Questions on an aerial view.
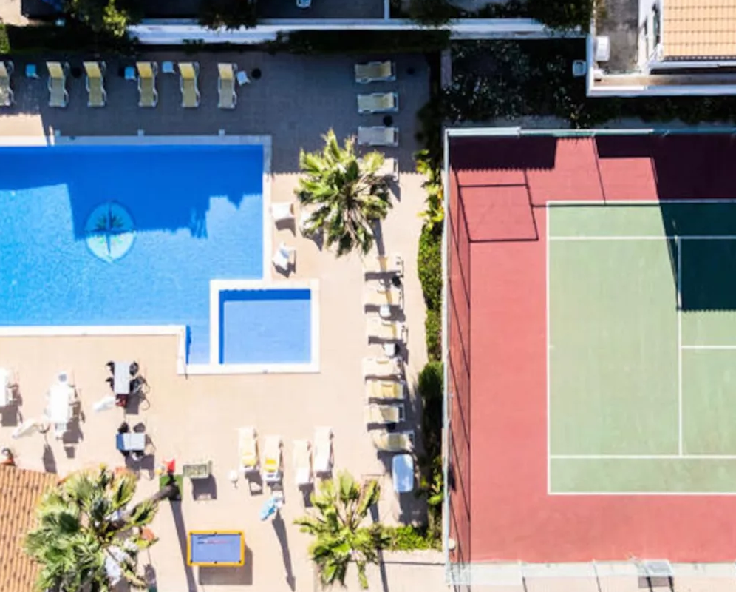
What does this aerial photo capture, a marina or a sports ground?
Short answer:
sports ground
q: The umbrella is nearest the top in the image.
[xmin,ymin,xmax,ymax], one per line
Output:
[94,394,124,407]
